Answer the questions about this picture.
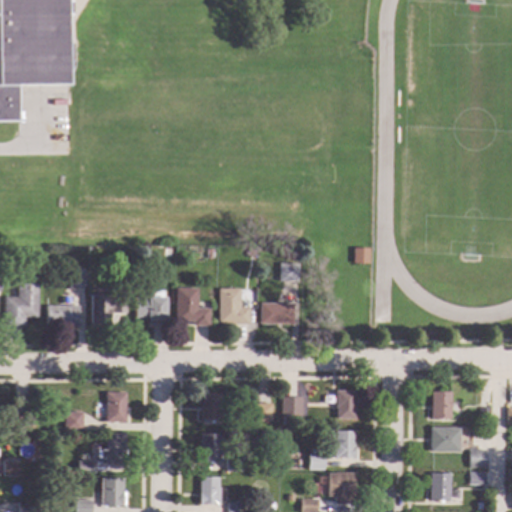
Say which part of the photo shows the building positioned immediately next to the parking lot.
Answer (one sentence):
Look in the top left portion of the view to spot the building positioned immediately next to the parking lot.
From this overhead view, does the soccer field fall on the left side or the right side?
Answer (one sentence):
It is on the right.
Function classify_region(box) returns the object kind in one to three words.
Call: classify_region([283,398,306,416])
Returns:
building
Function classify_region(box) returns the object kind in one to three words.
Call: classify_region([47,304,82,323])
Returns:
house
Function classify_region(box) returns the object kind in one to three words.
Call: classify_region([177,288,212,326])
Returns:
house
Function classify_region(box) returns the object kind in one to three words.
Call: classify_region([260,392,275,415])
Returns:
building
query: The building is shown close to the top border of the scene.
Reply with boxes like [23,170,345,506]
[0,0,75,122]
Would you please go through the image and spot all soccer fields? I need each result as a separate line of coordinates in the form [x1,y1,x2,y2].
[404,1,512,257]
